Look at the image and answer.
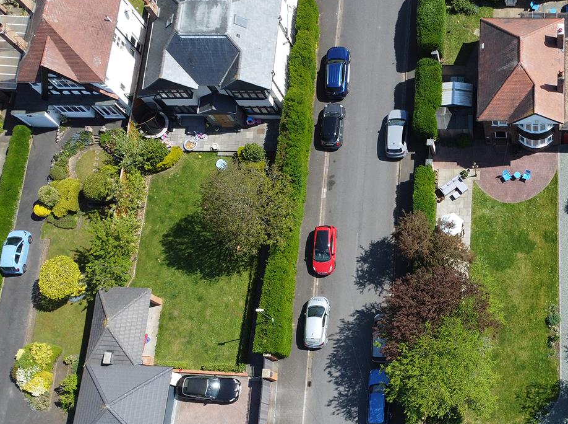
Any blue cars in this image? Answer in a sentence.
Yes, there is a blue car in the image.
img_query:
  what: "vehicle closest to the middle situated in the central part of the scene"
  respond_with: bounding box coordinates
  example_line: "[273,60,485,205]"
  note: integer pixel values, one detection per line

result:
[308,225,340,278]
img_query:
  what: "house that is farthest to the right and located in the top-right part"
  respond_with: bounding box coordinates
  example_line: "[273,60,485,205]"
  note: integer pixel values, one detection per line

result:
[476,13,568,154]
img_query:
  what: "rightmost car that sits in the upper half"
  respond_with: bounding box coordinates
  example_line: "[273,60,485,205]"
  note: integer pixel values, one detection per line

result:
[382,111,408,160]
